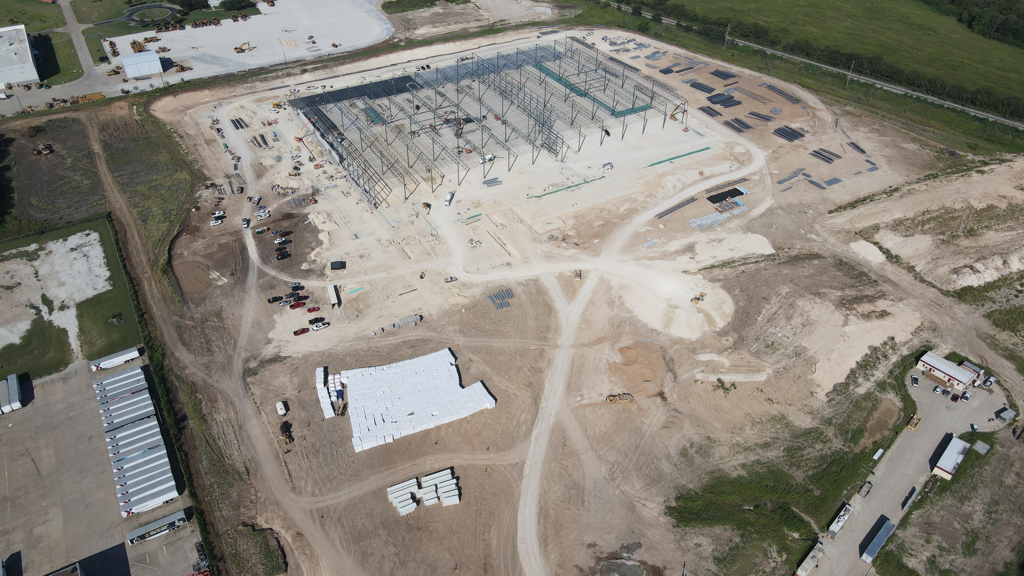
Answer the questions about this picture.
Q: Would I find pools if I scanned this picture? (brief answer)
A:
No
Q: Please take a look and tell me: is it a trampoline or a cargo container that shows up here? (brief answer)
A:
cargo container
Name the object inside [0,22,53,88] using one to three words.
building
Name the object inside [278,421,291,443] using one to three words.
vehicle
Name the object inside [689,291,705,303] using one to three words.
vehicle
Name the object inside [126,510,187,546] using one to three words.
trailer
